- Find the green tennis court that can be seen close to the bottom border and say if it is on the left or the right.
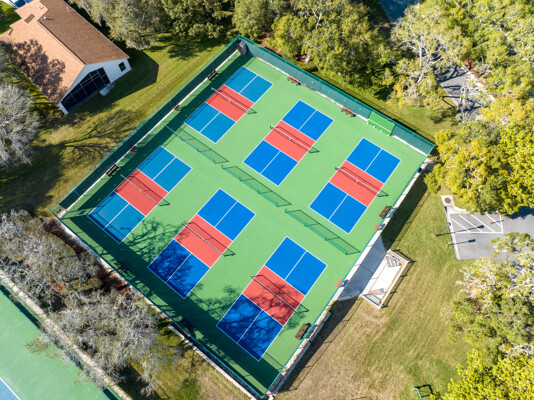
left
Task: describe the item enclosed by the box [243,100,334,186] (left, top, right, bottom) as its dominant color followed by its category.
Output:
blue sports court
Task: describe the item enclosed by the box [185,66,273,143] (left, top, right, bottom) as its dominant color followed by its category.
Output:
blue sports court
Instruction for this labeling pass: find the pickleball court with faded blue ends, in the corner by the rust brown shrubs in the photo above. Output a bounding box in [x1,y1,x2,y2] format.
[88,146,192,244]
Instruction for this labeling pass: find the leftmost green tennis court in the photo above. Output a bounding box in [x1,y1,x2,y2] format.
[0,295,103,400]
